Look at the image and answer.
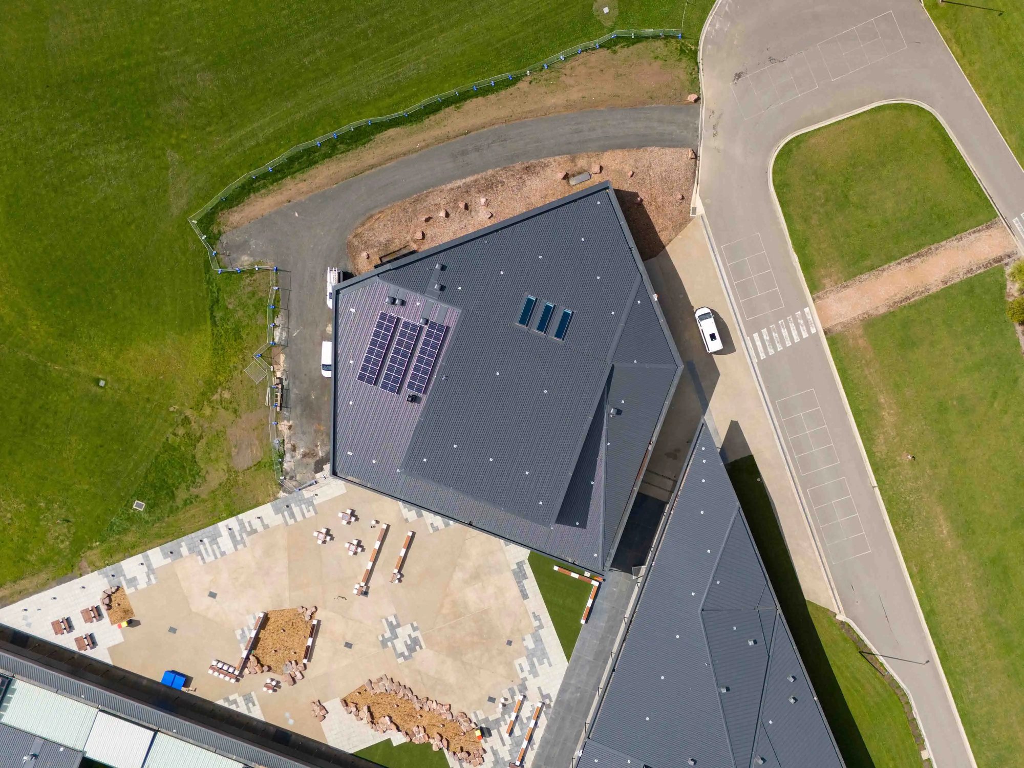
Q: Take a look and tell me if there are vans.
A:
Yes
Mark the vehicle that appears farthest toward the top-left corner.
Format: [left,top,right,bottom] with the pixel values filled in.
[326,263,343,308]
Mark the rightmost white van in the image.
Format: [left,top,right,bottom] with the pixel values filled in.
[695,305,724,354]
